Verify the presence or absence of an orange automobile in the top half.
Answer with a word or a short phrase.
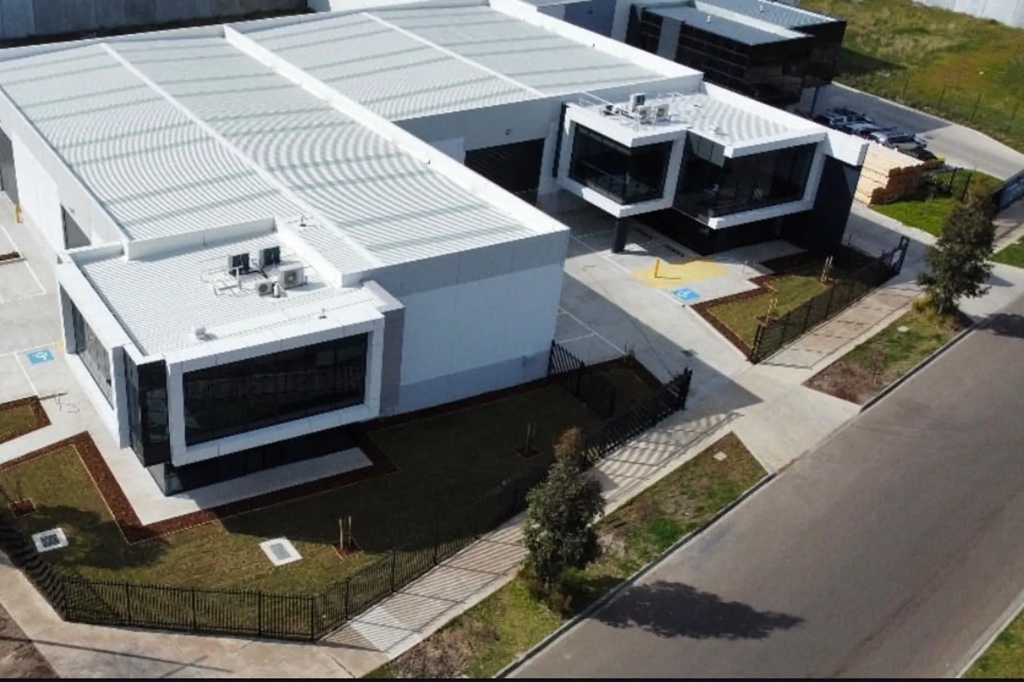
No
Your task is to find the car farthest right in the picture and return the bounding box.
[874,124,945,159]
